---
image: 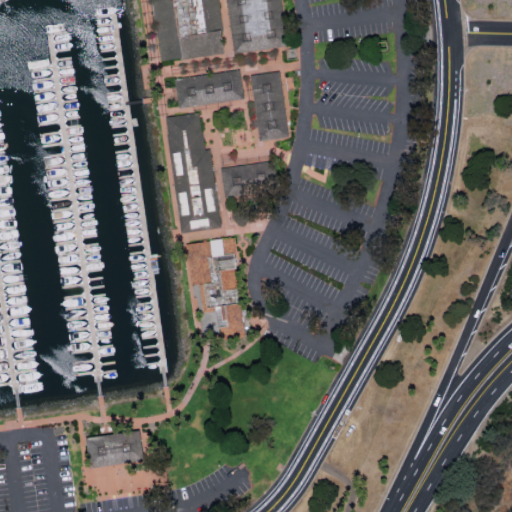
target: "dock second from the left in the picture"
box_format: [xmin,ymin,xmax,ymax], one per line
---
[32,32,118,396]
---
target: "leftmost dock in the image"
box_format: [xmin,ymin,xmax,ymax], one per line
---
[0,118,44,406]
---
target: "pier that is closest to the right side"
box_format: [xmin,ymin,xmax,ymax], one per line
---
[97,8,168,387]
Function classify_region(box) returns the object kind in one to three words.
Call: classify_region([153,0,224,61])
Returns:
building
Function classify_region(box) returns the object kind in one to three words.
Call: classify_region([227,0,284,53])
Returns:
building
